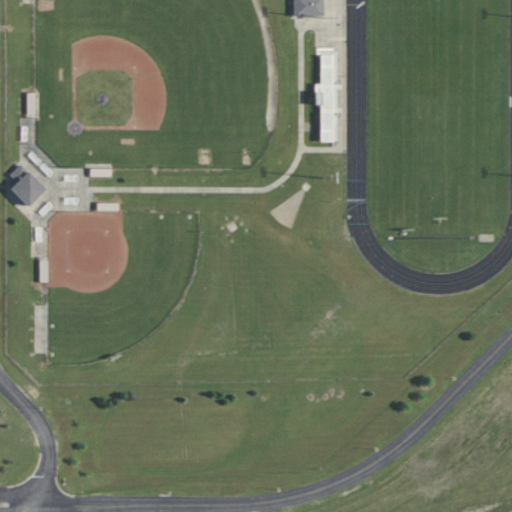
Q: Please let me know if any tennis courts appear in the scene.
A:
No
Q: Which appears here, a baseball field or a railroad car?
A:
baseball field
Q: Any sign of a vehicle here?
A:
No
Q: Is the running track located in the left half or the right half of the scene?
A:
right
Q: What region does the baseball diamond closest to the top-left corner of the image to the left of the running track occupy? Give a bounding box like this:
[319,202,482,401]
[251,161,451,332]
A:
[34,0,276,169]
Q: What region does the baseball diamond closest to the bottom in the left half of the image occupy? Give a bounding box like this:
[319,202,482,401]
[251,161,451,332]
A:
[48,211,201,364]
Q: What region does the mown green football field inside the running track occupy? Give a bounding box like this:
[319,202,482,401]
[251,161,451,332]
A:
[366,0,510,274]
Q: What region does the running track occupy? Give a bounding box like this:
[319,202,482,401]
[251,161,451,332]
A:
[346,0,512,295]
